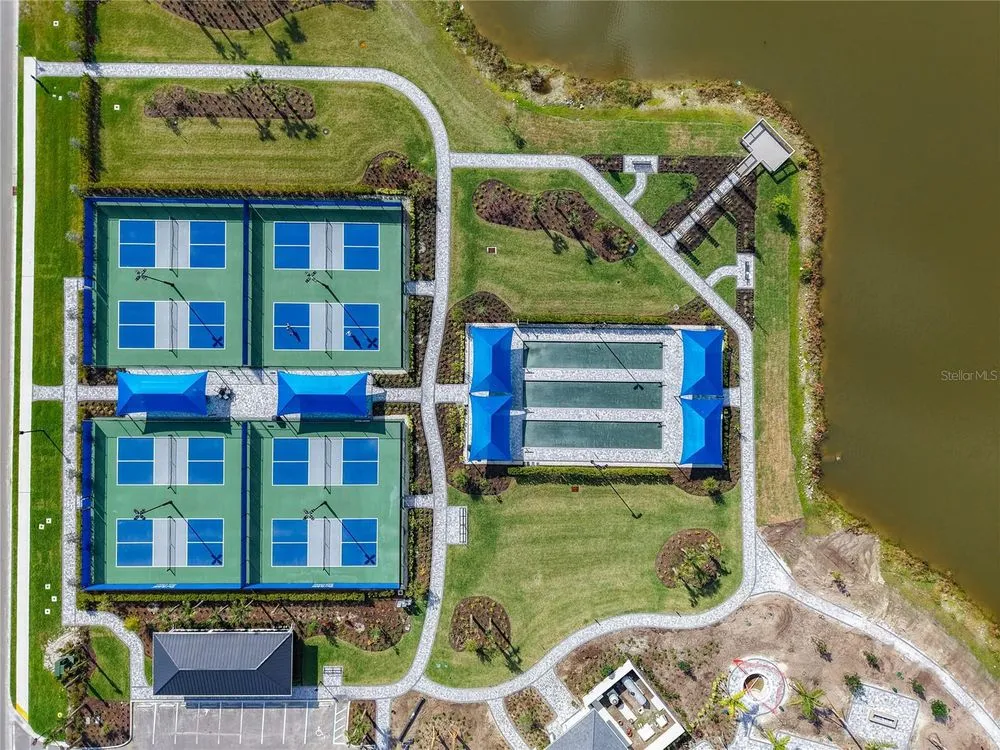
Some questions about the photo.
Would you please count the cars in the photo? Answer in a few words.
none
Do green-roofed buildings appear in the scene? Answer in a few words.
No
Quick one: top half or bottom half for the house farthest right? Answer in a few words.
bottom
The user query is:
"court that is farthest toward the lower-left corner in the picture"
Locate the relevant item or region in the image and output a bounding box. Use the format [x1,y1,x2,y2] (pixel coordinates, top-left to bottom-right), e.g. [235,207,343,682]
[116,519,224,567]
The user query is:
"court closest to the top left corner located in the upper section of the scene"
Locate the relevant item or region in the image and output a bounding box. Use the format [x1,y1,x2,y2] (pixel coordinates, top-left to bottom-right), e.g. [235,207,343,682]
[118,219,226,269]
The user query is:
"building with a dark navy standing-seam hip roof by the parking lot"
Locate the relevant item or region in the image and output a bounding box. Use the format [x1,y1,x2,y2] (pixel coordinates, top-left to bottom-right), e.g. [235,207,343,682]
[152,628,297,696]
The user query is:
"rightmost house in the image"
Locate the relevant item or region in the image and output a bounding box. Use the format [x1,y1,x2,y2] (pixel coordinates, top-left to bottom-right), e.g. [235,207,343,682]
[541,705,631,750]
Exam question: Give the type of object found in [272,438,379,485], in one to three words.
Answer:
sports court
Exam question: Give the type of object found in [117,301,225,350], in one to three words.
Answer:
sports court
